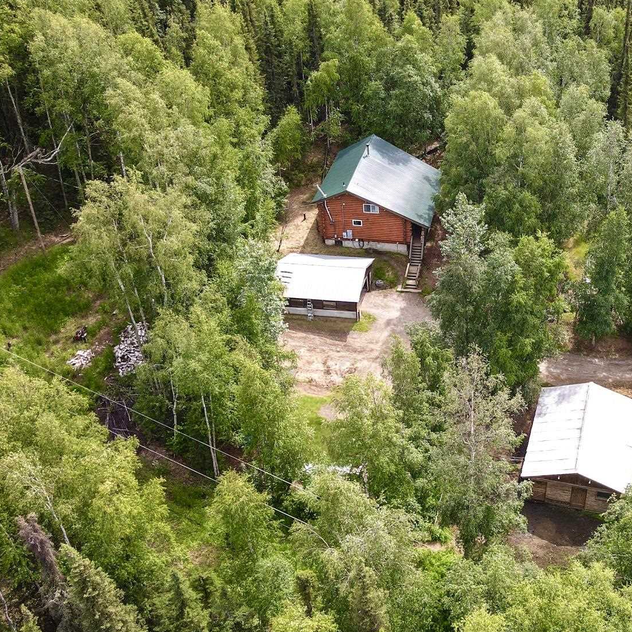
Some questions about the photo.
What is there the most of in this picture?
trees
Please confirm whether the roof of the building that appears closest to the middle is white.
Yes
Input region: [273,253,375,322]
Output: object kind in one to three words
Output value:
building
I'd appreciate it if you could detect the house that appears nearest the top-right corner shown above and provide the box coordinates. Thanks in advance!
[309,134,444,254]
